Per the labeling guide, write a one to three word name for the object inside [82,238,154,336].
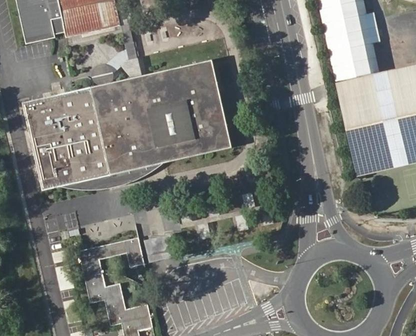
building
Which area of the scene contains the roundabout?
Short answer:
bottom right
